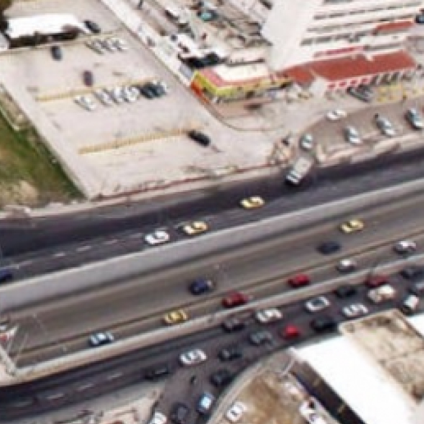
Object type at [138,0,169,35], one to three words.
shed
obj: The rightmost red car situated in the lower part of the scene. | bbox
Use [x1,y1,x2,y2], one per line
[364,275,391,290]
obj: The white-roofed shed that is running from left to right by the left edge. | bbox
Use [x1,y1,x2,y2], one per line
[5,14,91,52]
